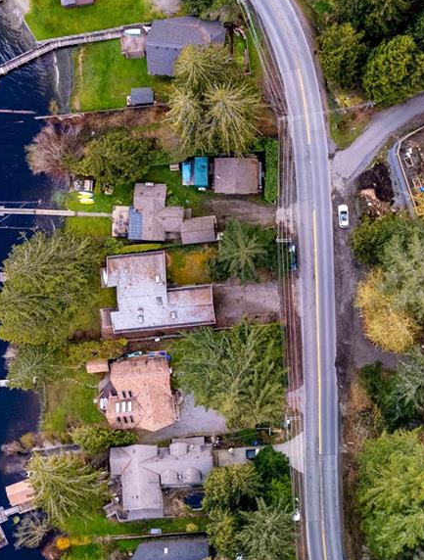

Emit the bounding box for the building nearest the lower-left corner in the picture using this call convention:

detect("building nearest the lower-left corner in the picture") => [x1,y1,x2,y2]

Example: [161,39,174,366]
[6,477,37,506]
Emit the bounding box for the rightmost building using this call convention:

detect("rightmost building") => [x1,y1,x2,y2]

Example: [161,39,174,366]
[214,155,259,197]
